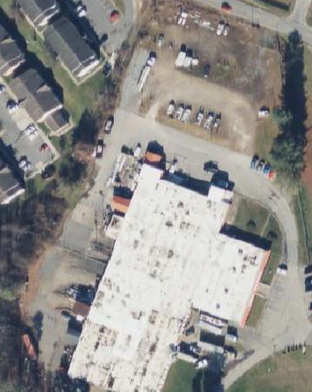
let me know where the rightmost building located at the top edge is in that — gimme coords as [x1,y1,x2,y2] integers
[42,17,103,76]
